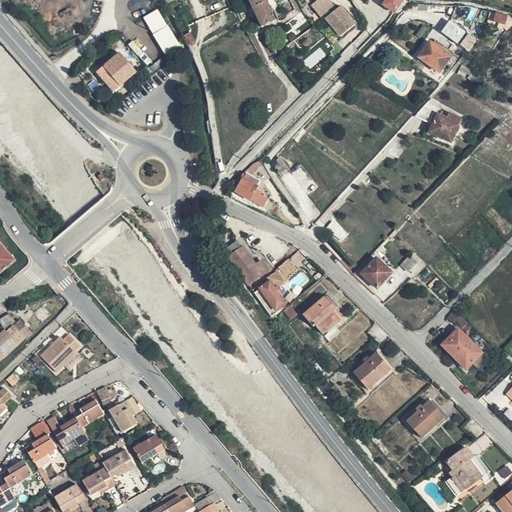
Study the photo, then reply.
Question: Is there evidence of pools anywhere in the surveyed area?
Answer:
Yes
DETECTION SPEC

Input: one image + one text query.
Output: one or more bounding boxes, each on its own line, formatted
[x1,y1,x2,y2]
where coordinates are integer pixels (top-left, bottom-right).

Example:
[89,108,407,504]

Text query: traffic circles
[134,154,172,191]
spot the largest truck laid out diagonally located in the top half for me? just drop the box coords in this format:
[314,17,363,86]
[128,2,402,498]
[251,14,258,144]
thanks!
[129,40,150,64]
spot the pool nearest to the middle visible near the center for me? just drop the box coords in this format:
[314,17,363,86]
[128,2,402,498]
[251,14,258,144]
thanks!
[290,272,308,290]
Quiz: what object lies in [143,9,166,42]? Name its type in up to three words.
building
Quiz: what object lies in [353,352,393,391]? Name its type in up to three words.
house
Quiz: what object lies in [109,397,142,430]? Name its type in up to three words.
house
